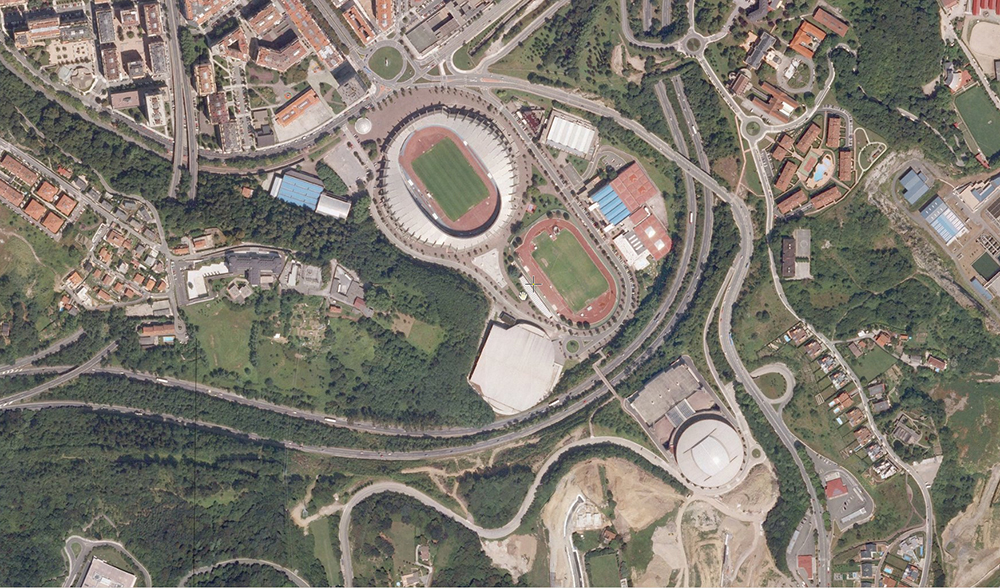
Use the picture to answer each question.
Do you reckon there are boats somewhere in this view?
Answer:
No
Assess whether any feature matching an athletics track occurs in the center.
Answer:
Yes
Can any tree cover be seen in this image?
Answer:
Yes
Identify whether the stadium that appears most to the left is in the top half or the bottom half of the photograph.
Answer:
top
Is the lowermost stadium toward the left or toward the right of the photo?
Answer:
right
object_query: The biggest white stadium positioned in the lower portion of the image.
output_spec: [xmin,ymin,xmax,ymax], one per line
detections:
[676,419,744,487]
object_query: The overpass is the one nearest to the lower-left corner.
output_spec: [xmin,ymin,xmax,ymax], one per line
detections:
[0,336,123,406]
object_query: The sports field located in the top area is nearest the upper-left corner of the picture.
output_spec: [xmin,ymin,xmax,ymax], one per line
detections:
[411,138,489,223]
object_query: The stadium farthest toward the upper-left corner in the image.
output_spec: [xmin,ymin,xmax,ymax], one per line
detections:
[382,107,519,252]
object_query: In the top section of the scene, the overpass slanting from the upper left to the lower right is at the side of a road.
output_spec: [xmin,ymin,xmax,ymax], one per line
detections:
[629,120,744,211]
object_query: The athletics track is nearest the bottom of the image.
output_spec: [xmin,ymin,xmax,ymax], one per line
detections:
[515,215,621,326]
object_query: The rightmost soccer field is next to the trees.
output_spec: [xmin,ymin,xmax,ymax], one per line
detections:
[954,80,1000,159]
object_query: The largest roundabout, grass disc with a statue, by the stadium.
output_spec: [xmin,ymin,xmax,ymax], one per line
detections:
[360,35,413,87]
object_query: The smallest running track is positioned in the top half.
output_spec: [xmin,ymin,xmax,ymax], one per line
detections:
[402,127,499,236]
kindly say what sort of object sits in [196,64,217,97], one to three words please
building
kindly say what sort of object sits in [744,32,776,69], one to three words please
house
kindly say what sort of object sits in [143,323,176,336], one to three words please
house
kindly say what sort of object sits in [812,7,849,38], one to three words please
building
